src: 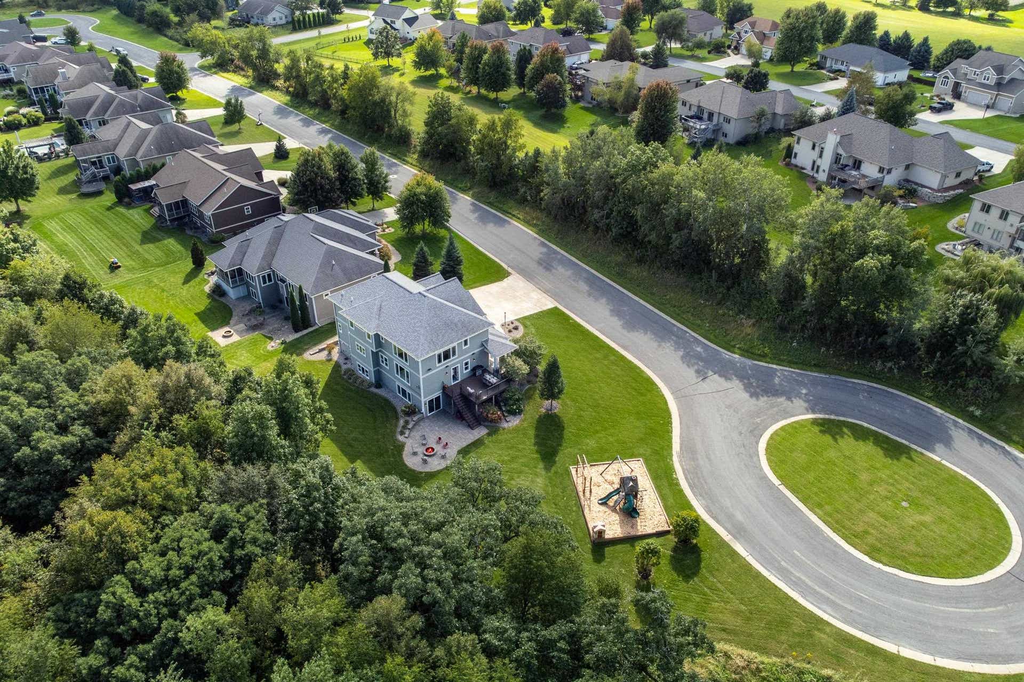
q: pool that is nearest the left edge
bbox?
[16,138,83,155]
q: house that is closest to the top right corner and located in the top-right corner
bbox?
[934,53,1024,111]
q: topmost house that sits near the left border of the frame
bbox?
[0,15,36,45]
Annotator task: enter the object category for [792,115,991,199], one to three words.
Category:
house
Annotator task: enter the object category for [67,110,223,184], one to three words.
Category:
house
